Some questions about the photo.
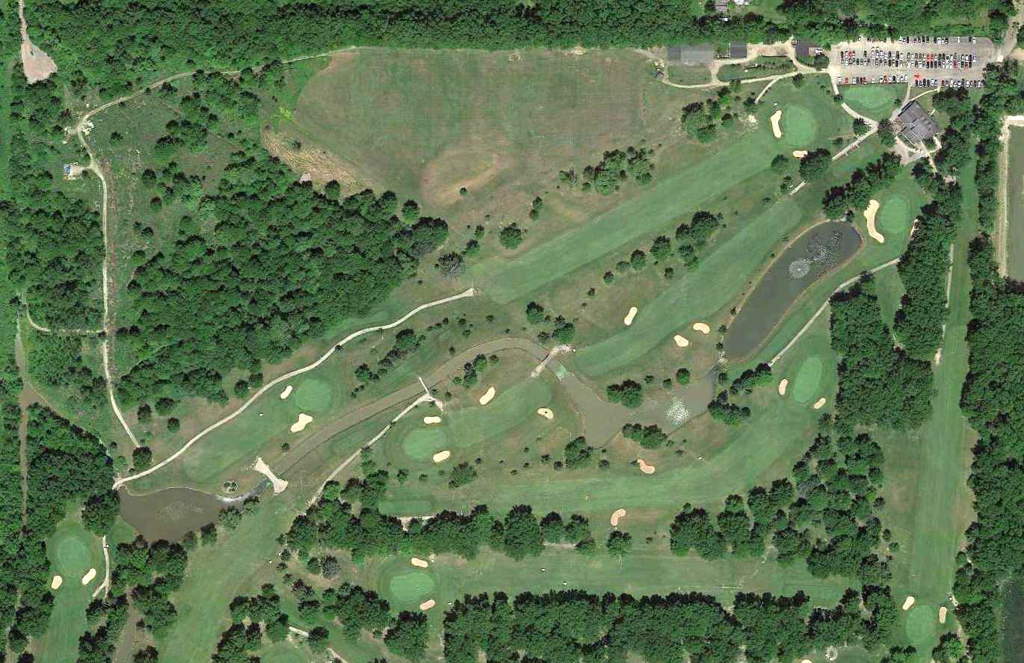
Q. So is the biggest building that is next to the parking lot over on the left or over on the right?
right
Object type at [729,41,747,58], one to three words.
building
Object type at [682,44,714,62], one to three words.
barn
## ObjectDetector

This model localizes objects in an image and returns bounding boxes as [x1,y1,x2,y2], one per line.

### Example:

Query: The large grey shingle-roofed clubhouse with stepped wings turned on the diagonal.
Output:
[899,100,941,141]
